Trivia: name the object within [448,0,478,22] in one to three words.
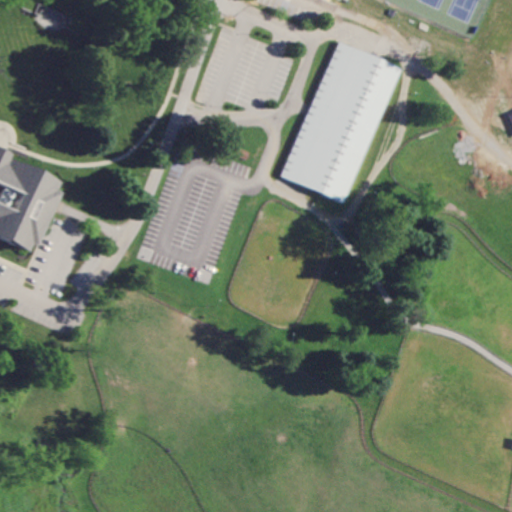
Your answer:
tennis court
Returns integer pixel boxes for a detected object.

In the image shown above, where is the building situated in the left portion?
[0,146,62,252]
